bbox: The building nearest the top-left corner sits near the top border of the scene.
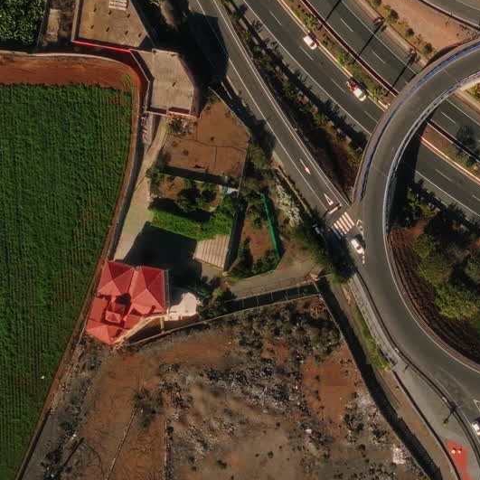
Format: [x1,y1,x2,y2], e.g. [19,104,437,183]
[71,0,160,53]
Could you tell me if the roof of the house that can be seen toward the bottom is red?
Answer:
Yes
